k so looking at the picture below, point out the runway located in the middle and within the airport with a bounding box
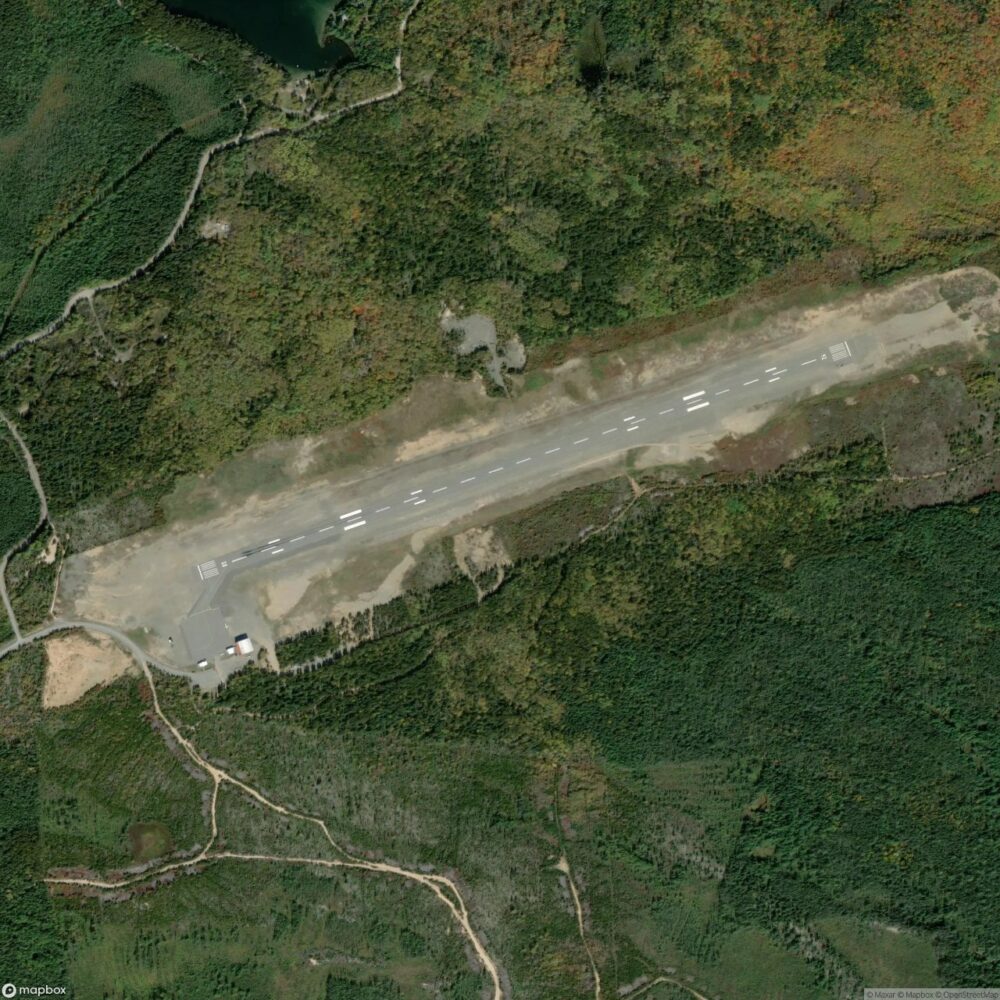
[193,336,864,582]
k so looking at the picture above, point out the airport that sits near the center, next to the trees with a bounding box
[181,336,864,663]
